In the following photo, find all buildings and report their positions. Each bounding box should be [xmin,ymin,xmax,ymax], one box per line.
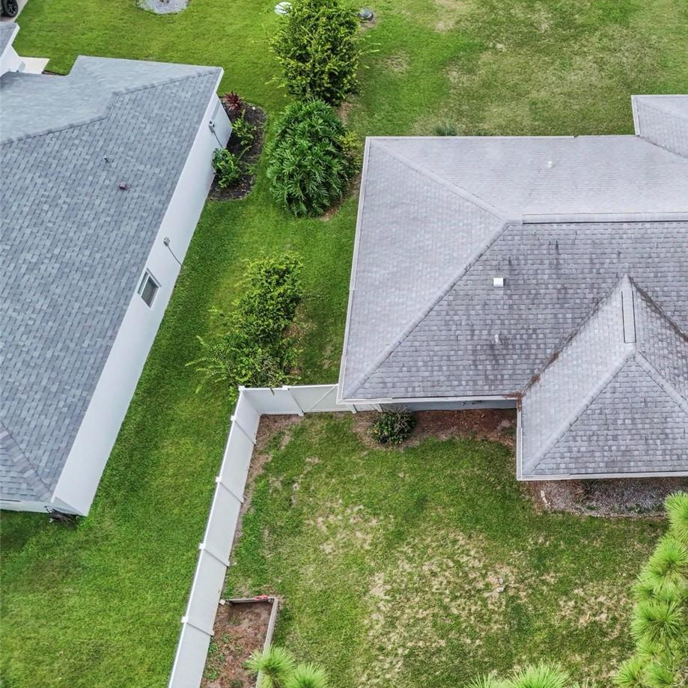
[0,23,231,515]
[338,94,688,487]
